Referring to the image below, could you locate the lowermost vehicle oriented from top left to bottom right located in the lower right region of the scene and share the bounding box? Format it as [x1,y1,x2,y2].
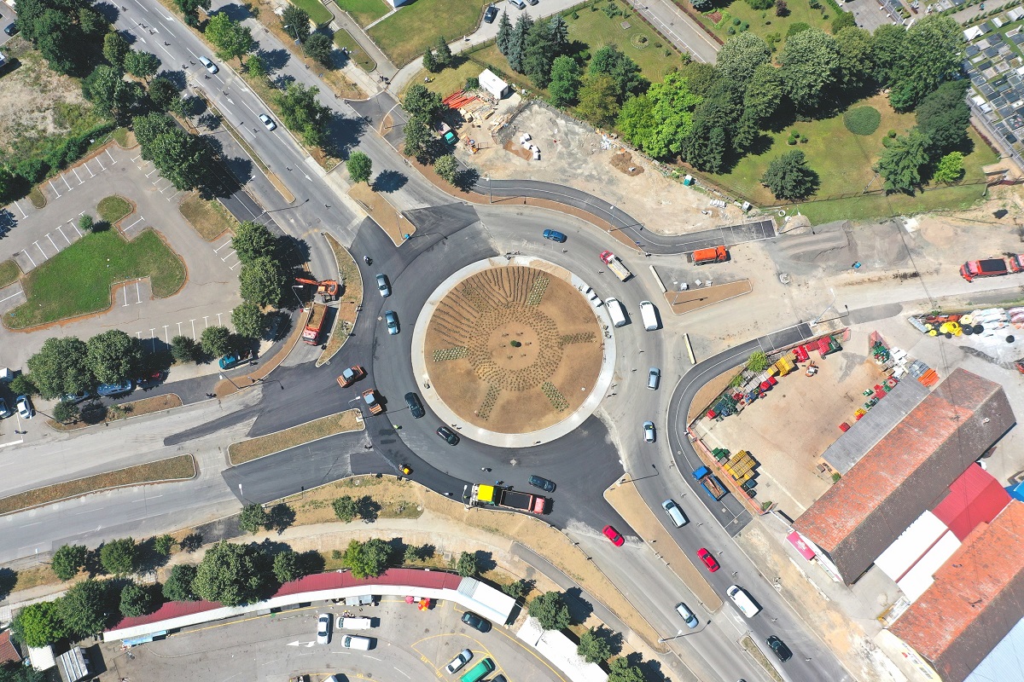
[767,634,793,665]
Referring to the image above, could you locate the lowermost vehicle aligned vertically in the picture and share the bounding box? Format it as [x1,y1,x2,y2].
[315,613,330,645]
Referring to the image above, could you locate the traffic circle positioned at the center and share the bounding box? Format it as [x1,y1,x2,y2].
[222,201,640,541]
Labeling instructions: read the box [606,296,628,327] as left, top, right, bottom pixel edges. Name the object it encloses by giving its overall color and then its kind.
white vehicle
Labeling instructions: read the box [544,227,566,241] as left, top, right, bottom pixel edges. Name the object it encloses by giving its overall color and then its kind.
blue car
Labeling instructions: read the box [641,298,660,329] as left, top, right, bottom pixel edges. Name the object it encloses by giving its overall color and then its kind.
white vehicle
